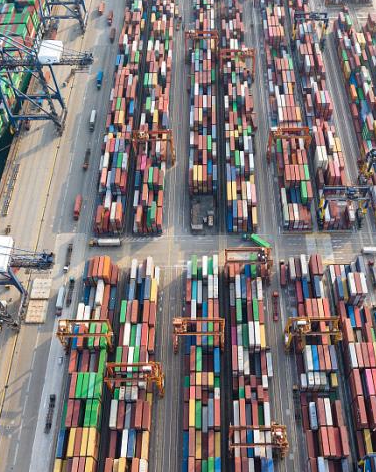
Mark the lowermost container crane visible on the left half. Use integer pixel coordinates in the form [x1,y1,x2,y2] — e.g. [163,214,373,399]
[103,360,165,399]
